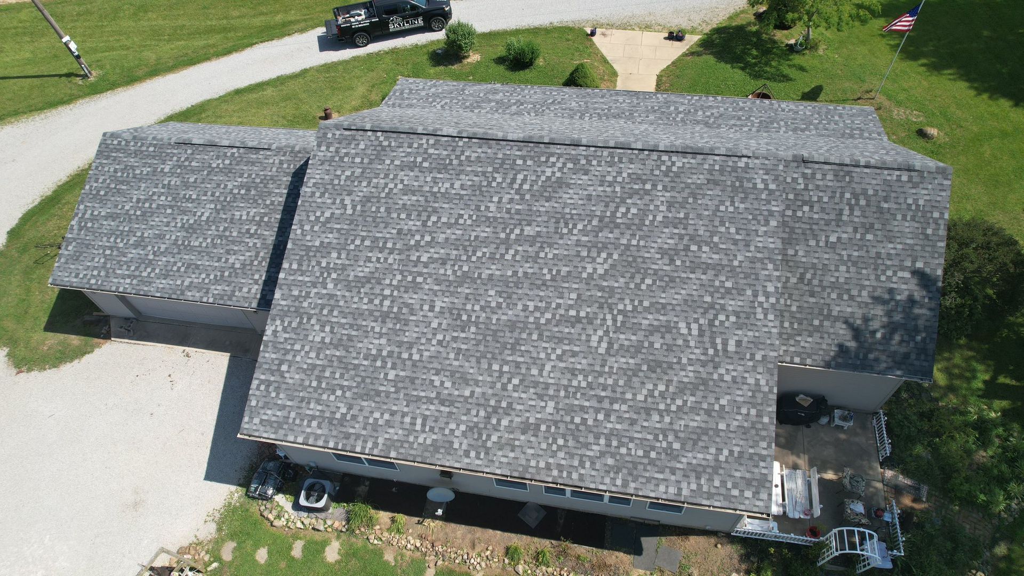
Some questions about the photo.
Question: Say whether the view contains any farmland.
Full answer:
No, the scene doesn't show any farmland.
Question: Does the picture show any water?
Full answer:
No, there's no water in this view.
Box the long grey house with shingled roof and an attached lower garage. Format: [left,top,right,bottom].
[48,77,953,534]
